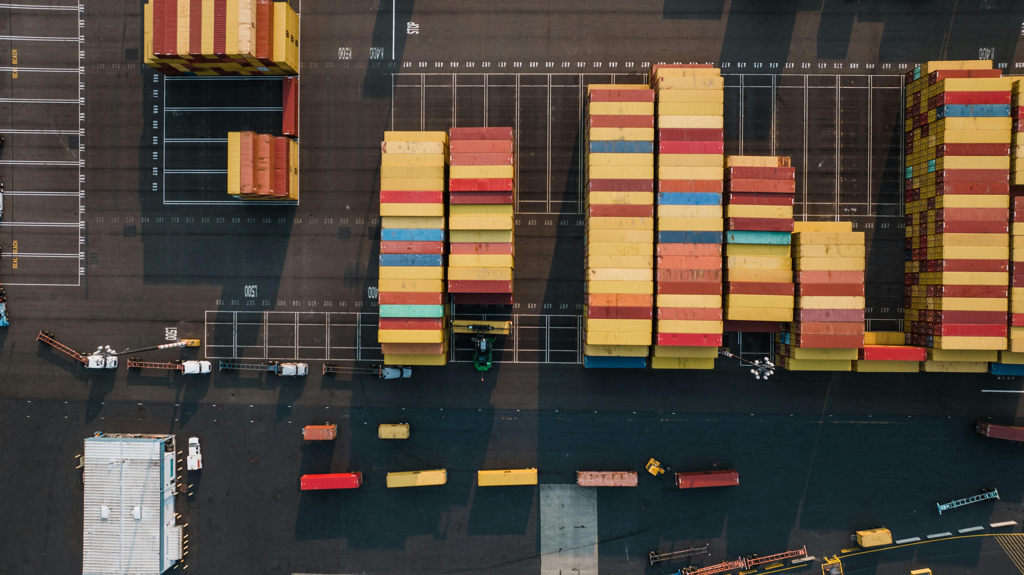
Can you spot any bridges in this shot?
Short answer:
No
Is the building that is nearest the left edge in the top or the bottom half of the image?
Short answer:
bottom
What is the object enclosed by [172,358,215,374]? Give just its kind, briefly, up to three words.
vehicle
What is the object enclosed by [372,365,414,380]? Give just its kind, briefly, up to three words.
vehicle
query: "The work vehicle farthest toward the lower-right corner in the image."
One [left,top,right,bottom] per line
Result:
[645,458,668,477]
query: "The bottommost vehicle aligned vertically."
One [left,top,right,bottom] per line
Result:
[188,435,202,470]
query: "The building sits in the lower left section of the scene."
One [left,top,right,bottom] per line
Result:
[81,434,187,575]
